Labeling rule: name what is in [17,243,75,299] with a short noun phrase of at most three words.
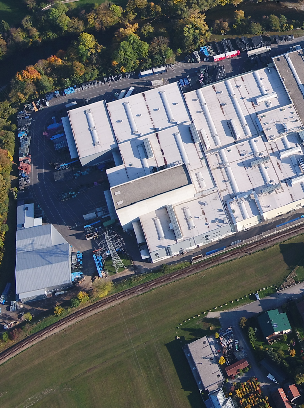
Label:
building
